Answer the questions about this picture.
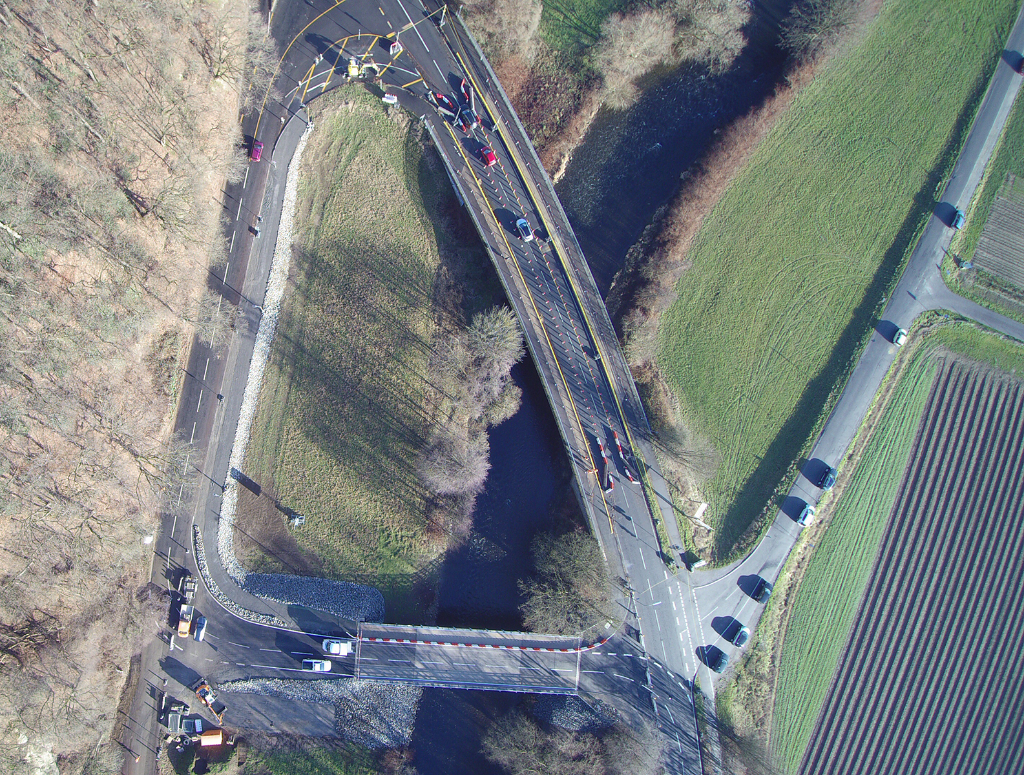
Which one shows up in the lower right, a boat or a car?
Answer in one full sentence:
The one visible in the lower right is a car.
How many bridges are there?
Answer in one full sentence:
In total, there are 2 bridges in the scene.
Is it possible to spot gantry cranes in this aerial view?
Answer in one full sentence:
No, no gantry crane can be seen from above.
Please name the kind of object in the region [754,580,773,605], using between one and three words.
car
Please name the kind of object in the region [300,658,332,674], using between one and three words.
vehicle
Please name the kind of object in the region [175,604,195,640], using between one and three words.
vehicle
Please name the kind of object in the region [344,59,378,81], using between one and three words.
work vehicle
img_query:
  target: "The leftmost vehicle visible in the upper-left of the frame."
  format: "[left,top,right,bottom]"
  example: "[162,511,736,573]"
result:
[251,141,265,163]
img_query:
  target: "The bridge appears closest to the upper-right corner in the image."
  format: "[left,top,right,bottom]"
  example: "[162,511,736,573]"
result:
[422,55,652,489]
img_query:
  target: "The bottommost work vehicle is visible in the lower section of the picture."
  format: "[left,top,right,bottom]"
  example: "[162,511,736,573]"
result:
[189,679,222,721]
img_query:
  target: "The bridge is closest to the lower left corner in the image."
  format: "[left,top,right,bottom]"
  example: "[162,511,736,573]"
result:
[356,615,598,712]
